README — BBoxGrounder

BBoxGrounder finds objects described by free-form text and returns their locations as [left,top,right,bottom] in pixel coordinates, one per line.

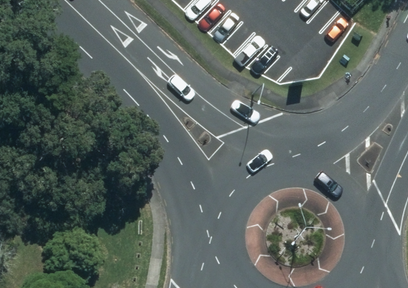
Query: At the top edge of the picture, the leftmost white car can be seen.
[186,0,212,20]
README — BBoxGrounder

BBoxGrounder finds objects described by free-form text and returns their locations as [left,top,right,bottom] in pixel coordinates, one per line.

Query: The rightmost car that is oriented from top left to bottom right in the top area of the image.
[230,100,258,124]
